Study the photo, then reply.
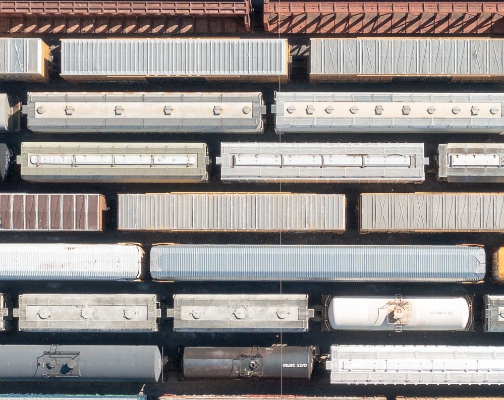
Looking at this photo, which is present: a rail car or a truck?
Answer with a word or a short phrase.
rail car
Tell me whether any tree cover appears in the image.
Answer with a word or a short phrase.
No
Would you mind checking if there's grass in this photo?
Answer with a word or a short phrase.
No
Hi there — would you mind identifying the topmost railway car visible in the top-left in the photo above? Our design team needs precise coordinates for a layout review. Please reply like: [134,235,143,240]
[0,0,259,35]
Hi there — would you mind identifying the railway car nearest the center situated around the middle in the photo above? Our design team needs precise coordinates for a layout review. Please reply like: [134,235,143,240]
[115,192,354,235]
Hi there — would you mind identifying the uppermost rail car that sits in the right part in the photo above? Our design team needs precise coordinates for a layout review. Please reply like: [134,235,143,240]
[259,0,504,34]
